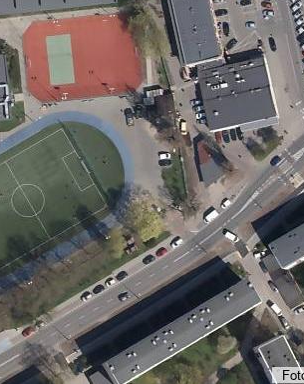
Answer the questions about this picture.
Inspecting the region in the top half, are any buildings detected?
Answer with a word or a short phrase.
Yes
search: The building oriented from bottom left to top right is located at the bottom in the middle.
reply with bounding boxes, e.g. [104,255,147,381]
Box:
[101,278,262,384]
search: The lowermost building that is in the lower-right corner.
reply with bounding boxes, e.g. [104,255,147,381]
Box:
[257,335,304,384]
